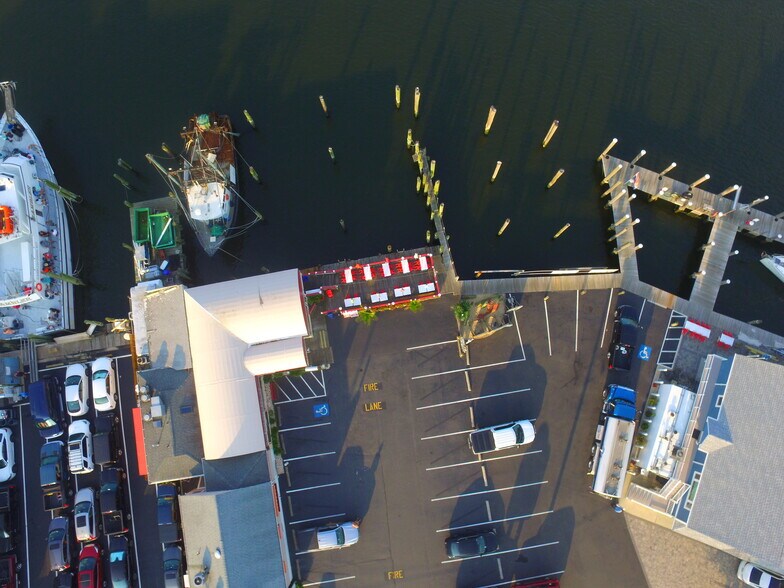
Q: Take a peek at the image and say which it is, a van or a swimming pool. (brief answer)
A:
van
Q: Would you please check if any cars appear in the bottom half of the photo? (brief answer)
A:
Yes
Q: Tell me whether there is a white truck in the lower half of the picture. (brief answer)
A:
Yes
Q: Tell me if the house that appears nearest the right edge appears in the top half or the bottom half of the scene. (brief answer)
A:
bottom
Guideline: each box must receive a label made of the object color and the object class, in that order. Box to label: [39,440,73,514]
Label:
blue truck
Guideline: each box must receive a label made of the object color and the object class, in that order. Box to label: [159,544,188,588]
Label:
blue car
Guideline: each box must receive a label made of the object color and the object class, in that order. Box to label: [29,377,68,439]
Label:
blue van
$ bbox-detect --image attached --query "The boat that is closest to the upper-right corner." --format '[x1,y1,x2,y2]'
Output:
[756,257,784,289]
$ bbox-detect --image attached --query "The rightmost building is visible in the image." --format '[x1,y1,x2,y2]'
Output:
[625,355,784,562]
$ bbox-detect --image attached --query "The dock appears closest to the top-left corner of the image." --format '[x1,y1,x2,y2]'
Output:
[122,197,188,289]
